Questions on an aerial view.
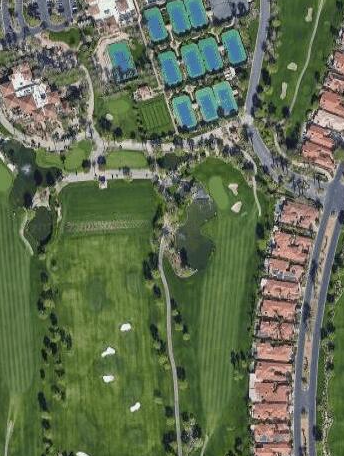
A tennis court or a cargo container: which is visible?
tennis court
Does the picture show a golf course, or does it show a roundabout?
golf course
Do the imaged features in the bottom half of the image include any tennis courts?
No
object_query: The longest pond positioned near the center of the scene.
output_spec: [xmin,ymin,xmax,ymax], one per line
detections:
[176,196,217,274]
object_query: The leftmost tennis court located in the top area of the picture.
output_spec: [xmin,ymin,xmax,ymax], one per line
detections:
[108,42,135,76]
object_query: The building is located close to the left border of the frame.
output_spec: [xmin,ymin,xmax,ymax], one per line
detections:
[0,60,67,129]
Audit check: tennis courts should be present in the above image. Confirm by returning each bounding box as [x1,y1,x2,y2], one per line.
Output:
[159,51,183,84]
[213,81,236,115]
[199,38,222,72]
[108,42,135,76]
[182,44,203,77]
[167,0,191,32]
[144,7,167,41]
[195,87,219,121]
[210,0,233,20]
[185,0,207,27]
[223,30,245,63]
[173,95,196,128]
